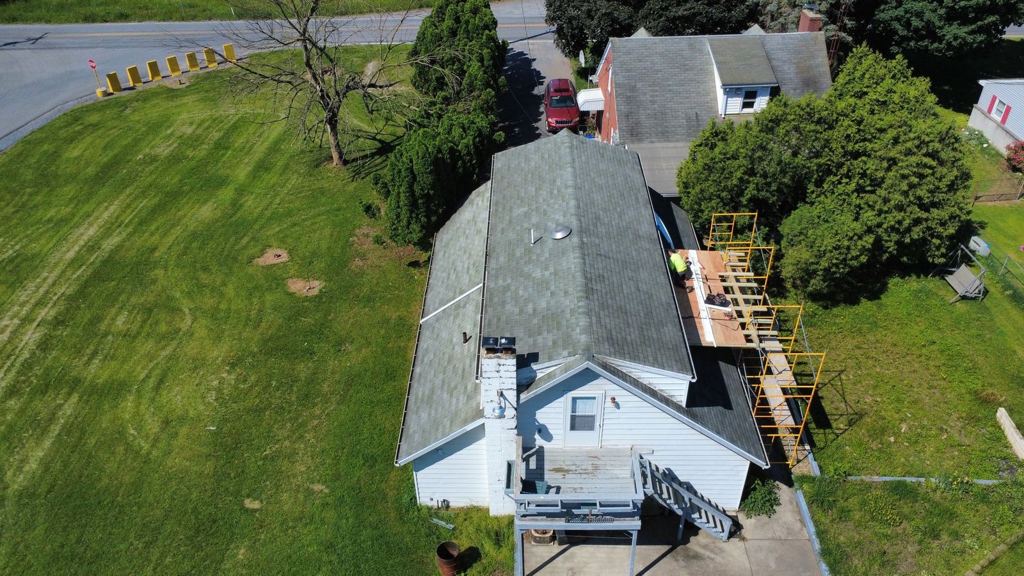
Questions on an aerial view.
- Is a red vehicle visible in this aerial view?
Yes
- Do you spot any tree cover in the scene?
Yes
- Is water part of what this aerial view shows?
No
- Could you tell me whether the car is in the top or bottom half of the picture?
top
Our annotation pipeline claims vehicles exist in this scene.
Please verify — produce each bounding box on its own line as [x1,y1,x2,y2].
[543,77,581,129]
